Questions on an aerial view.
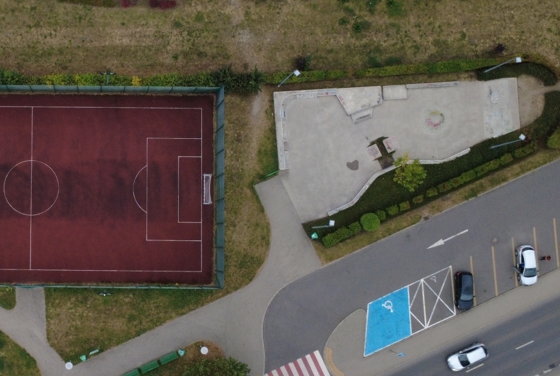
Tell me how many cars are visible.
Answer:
3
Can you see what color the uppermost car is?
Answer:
white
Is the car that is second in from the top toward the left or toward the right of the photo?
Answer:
right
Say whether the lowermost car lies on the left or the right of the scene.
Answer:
right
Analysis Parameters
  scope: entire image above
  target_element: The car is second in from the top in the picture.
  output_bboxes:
[453,271,477,310]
